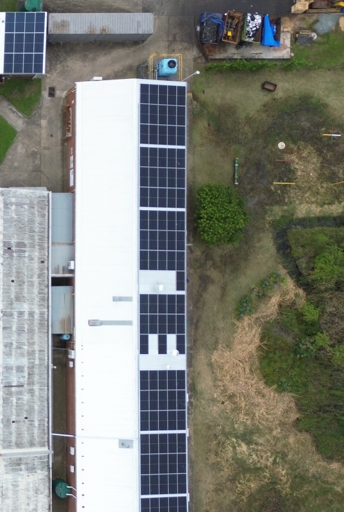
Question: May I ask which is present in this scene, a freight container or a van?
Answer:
freight container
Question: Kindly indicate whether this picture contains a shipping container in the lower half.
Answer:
No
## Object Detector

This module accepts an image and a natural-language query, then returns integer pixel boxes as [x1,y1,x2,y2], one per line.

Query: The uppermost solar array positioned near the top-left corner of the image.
[4,12,45,73]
